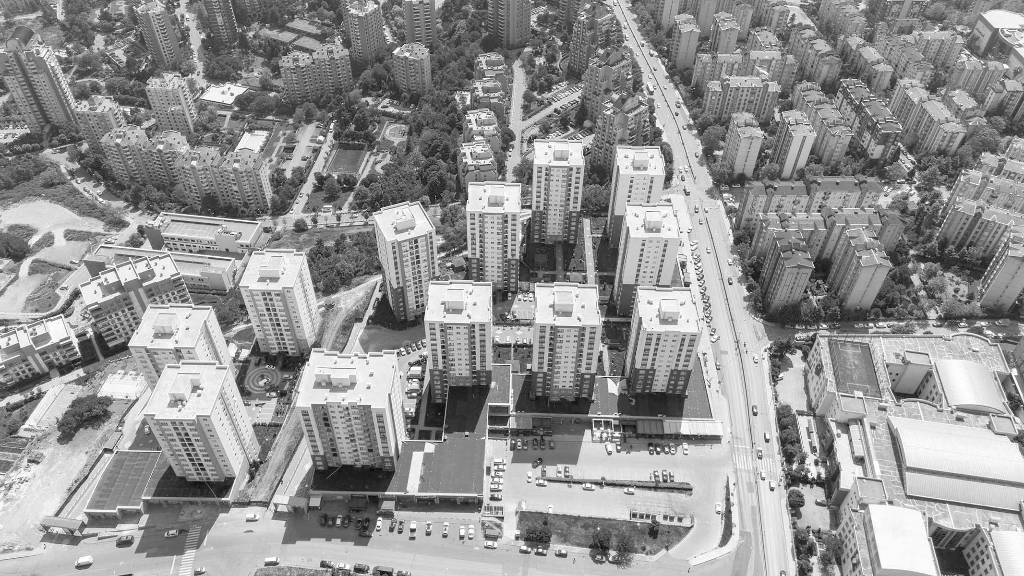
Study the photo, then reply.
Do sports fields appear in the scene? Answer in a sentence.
Yes, a sports field can be made out from above.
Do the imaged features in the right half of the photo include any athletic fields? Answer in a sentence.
Yes, the scene does show an athletic field in the right half of the photo.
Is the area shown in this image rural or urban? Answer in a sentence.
The area shown here is urban.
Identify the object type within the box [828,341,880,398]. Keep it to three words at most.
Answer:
sports field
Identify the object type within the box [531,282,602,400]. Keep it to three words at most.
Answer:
building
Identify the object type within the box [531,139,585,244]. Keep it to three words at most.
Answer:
building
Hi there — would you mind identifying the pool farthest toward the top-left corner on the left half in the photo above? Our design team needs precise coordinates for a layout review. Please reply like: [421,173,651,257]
[239,132,267,149]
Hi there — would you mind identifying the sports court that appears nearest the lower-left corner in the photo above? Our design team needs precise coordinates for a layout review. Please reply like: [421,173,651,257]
[18,384,87,433]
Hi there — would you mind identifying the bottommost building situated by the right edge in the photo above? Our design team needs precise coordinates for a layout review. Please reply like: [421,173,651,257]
[807,332,1024,576]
